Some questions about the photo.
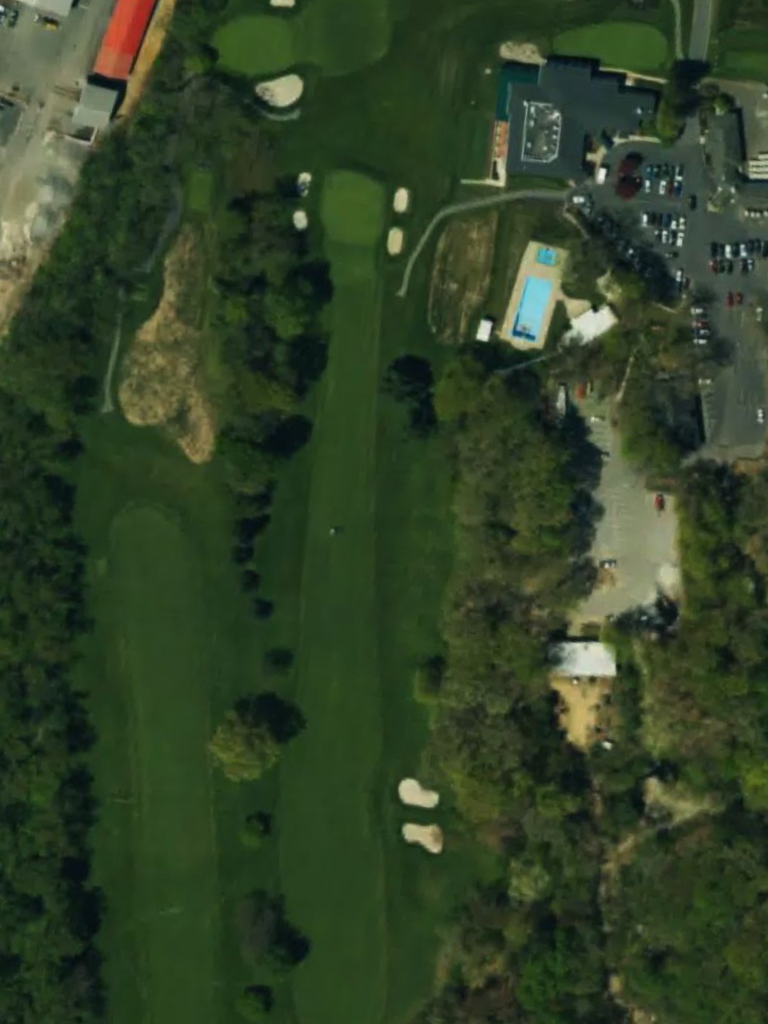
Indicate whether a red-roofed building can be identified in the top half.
Yes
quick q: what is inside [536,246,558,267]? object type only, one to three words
swimming pool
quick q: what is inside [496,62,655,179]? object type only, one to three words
building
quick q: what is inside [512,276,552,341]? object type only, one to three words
swimming pool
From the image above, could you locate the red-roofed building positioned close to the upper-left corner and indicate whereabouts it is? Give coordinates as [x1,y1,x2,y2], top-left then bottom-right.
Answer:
[93,0,156,81]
